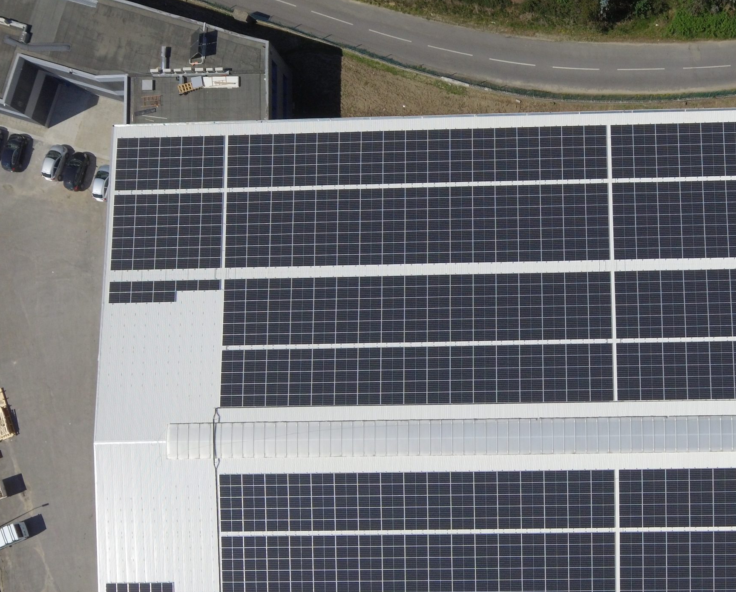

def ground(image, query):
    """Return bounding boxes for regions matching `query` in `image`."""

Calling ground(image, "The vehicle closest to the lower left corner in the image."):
[0,523,30,549]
